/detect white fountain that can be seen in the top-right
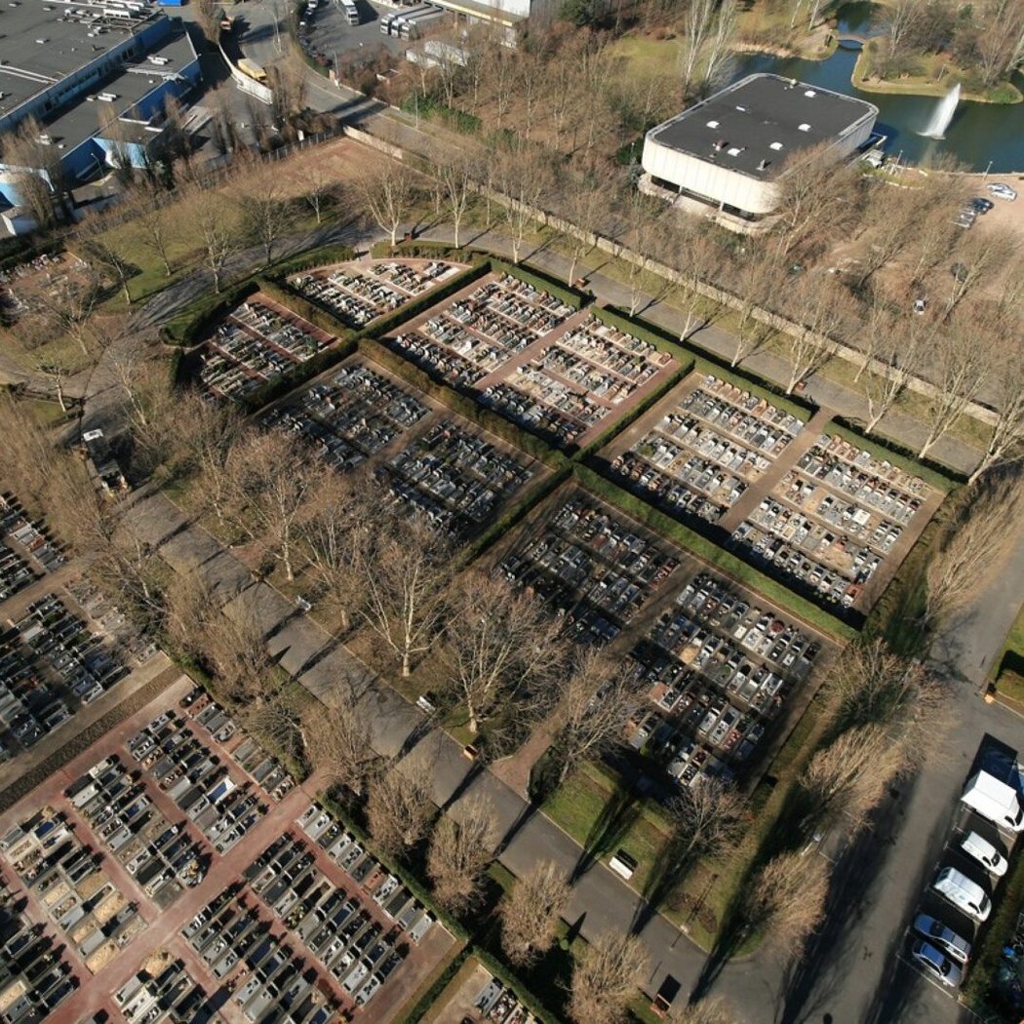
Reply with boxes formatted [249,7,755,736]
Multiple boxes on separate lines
[927,84,962,139]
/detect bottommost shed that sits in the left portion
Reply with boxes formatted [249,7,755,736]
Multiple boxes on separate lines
[76,439,126,485]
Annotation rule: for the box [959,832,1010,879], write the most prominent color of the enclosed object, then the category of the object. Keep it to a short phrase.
white van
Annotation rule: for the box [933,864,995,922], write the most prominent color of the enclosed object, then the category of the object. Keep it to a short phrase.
white van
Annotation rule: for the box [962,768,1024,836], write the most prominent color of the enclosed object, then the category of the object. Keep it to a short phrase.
white truck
